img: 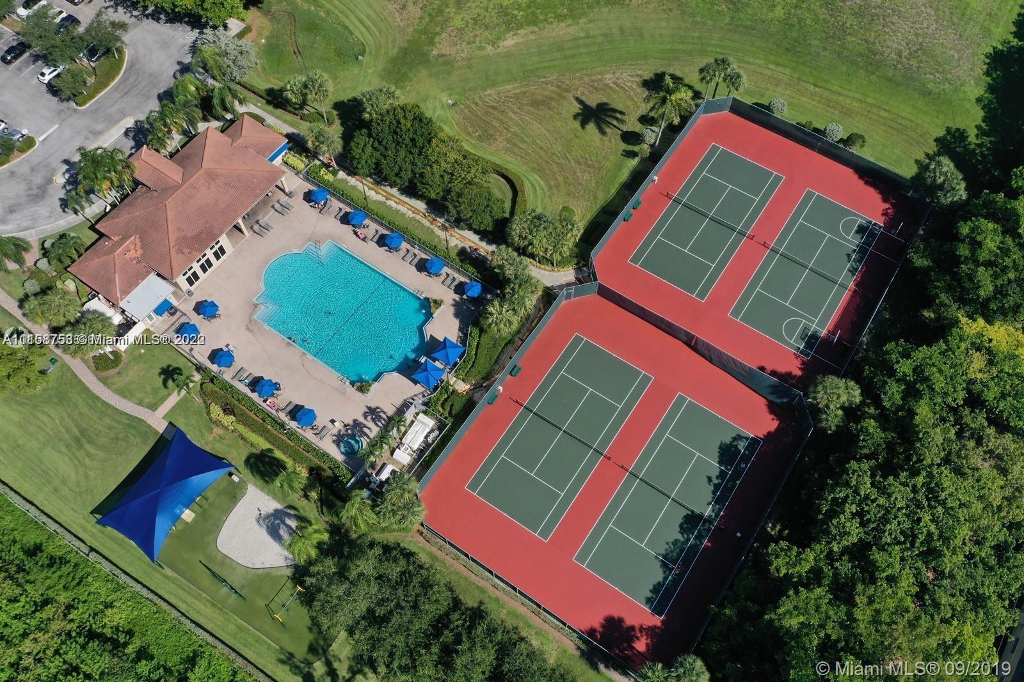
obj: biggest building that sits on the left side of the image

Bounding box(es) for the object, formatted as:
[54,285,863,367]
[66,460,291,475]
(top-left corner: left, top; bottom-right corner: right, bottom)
[67,113,294,329]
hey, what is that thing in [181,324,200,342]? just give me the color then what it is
blue umbrella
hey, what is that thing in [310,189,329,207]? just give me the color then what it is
blue umbrella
